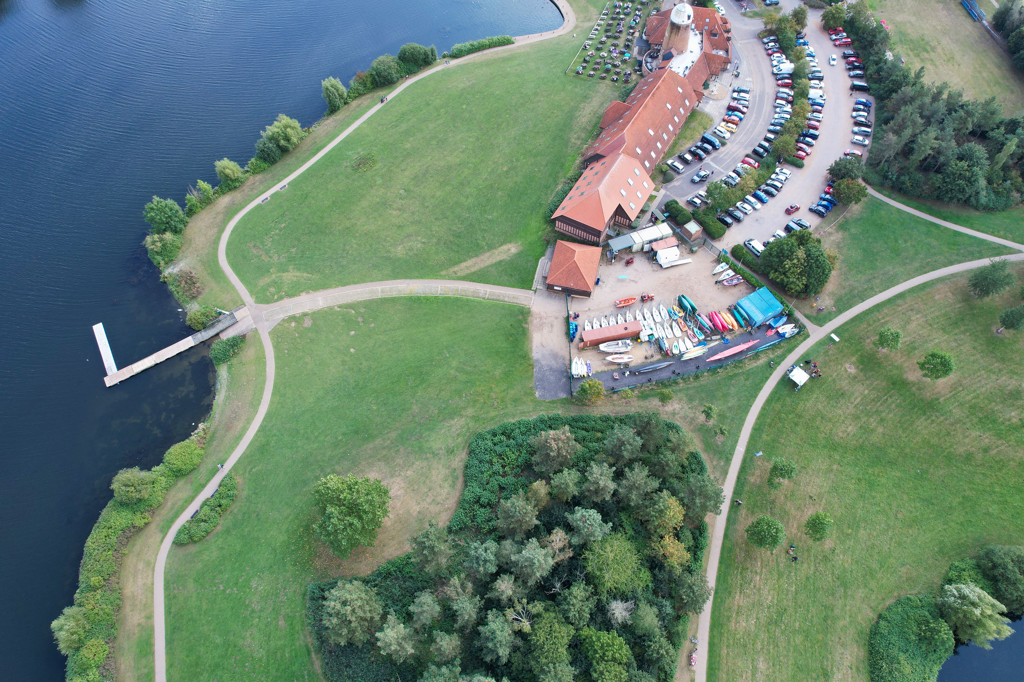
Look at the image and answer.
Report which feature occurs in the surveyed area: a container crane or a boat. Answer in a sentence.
It is a boat that can be seen here.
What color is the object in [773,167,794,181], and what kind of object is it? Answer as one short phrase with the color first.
white car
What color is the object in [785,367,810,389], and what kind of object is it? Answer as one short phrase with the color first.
white gazebo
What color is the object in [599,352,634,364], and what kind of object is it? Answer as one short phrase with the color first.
white boat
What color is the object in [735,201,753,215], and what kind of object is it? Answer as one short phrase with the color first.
white car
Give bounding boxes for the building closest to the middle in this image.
[546,239,602,299]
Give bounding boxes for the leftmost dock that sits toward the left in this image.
[93,323,118,375]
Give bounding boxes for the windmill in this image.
[658,0,694,65]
